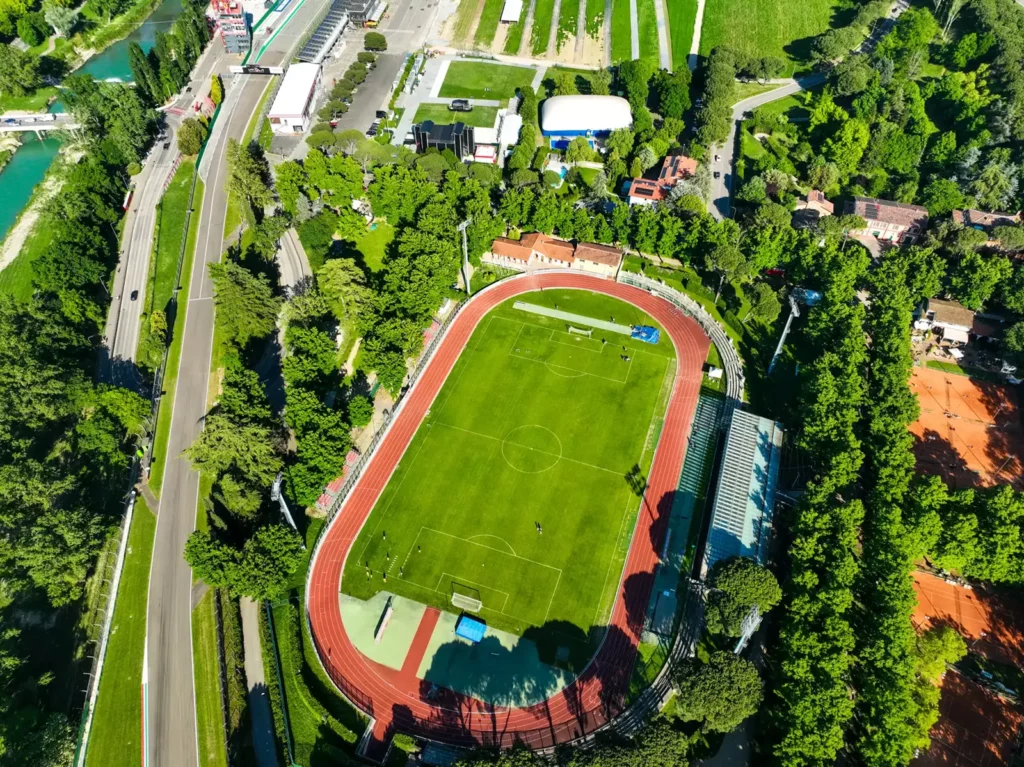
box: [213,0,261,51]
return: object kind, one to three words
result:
building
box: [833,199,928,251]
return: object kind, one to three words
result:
house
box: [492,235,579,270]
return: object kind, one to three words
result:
building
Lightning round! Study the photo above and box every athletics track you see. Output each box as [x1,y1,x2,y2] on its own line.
[308,273,712,762]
